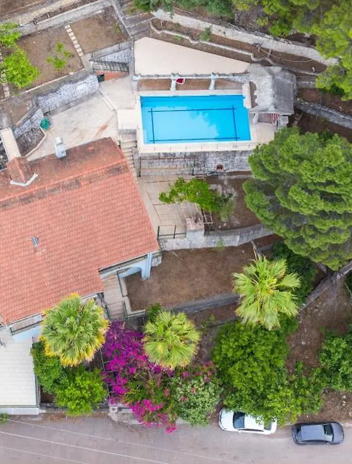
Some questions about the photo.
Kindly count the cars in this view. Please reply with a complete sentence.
The count of cars comes to 2.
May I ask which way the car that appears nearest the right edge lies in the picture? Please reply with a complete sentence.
The car that appears nearest the right edge runs from side to side in the image.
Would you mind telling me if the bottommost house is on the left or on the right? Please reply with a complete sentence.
The bottommost house is on the left side of the image.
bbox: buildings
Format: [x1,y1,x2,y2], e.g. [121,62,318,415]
[0,136,157,348]
[250,67,300,133]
